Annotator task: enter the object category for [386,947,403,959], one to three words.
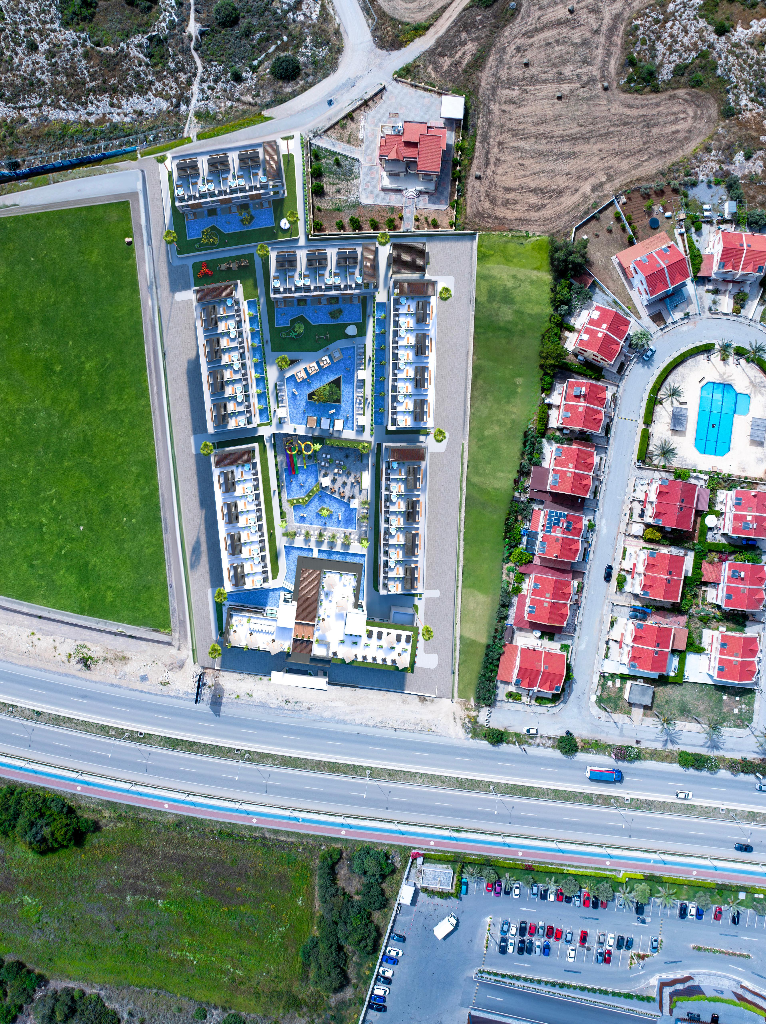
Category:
vehicle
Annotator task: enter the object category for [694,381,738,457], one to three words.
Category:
swimming pool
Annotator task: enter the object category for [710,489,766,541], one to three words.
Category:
house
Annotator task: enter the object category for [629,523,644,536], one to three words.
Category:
gazebo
